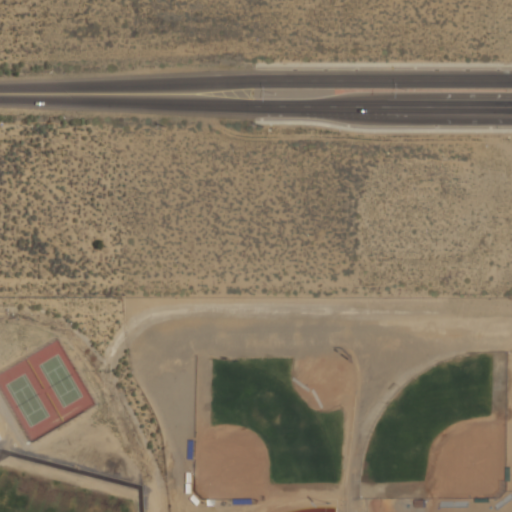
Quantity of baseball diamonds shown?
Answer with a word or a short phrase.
3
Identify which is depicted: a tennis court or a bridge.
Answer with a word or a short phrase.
tennis court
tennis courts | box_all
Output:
[0,358,63,440]
[26,340,94,422]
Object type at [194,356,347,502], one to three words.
baseball field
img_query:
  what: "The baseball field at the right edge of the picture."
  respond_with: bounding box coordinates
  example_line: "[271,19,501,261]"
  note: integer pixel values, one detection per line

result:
[360,352,508,500]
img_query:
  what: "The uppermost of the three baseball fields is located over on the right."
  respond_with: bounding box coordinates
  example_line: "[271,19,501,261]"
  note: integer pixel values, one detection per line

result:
[292,350,354,412]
